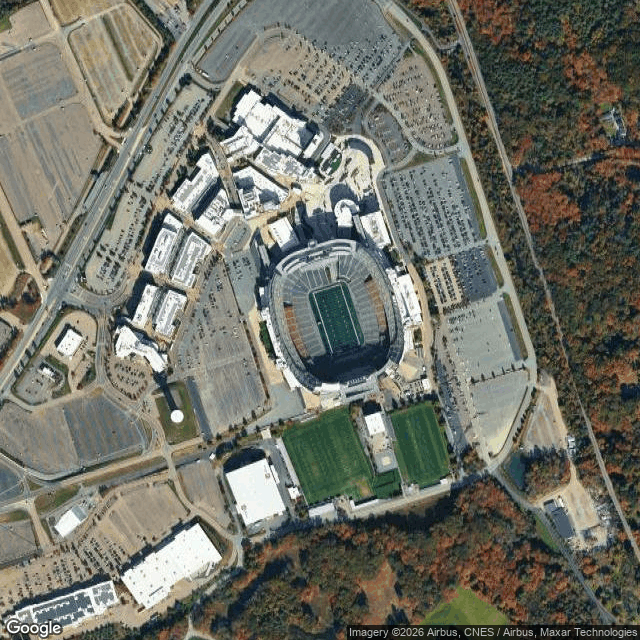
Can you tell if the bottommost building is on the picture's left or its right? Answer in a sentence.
It is on the left.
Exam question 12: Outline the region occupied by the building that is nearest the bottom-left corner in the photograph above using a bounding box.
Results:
[2,581,119,640]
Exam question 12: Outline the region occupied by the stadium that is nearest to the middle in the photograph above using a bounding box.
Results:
[269,239,406,406]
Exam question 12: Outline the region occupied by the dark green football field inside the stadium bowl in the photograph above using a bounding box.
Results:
[309,280,365,356]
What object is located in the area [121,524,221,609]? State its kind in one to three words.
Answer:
building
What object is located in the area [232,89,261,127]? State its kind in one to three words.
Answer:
building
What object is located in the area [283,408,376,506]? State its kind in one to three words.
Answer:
sports field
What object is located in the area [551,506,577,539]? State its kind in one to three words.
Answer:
shed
